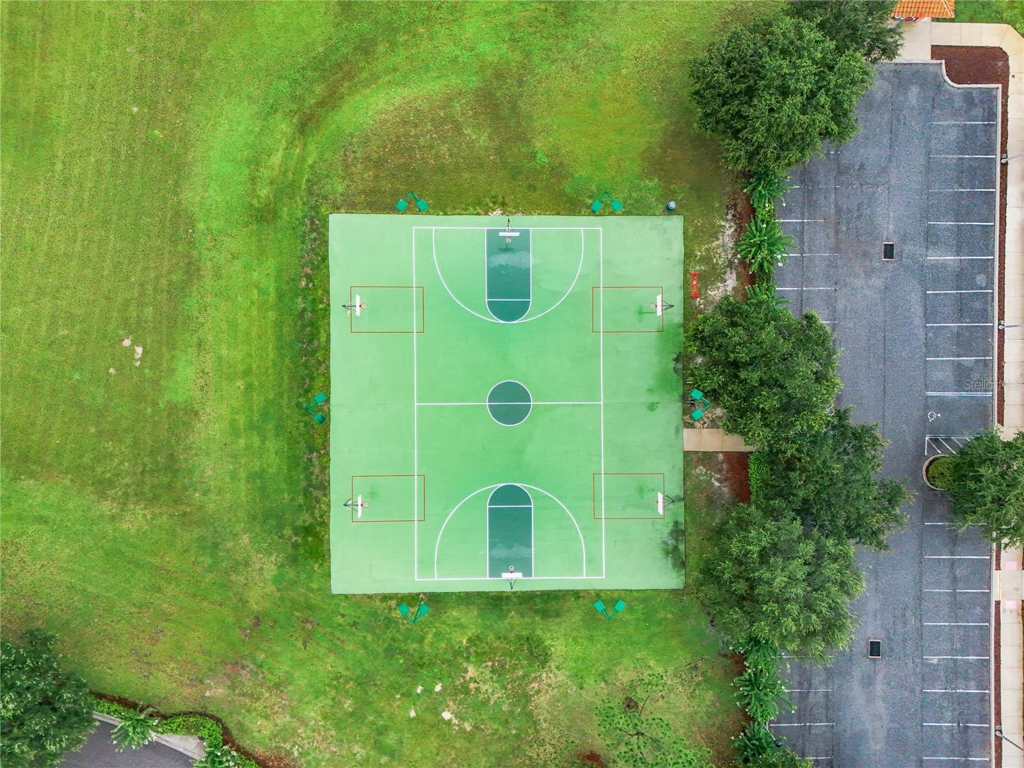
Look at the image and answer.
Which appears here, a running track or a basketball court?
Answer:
basketball court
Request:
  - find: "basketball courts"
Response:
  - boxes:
[328,213,685,595]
